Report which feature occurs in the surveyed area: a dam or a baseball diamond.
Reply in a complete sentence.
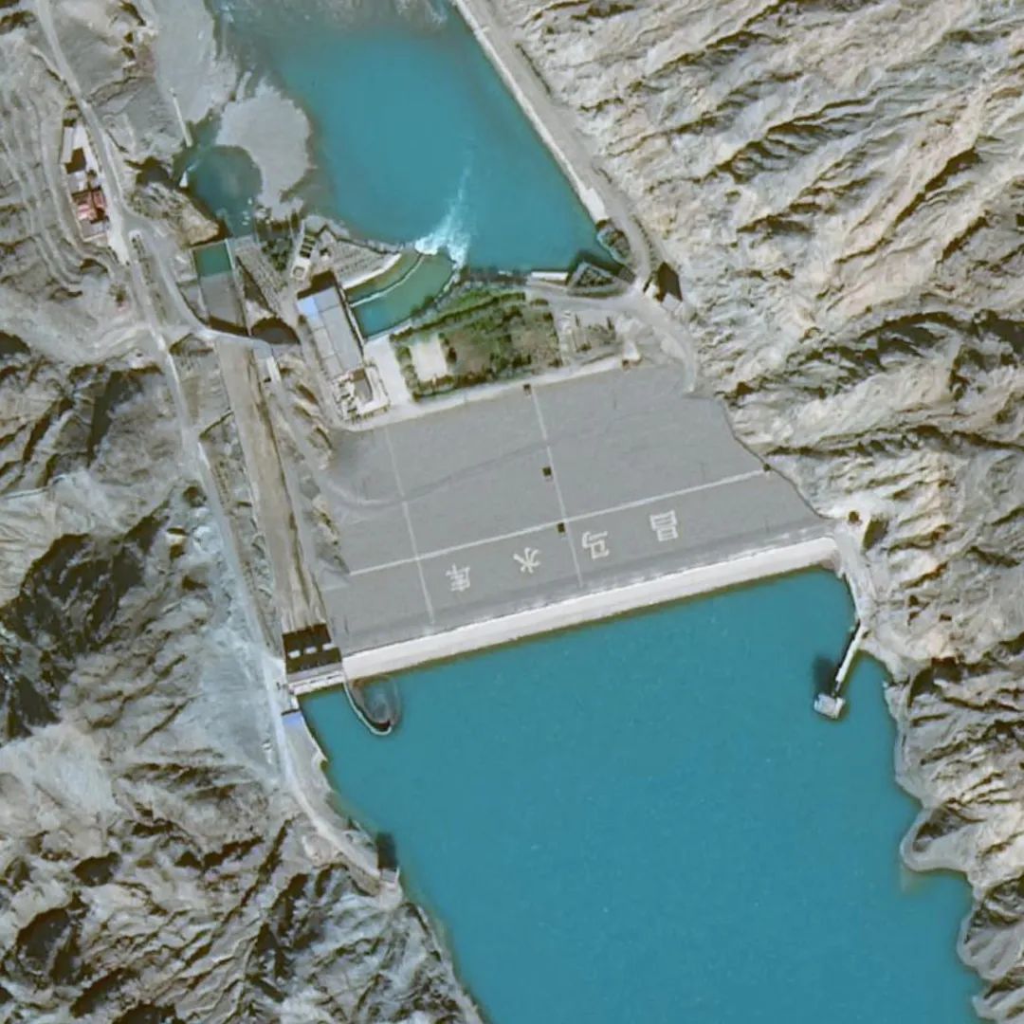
There is a dam in the scene.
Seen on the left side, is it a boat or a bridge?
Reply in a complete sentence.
The one visible on the left side is a bridge.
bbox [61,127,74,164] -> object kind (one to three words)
house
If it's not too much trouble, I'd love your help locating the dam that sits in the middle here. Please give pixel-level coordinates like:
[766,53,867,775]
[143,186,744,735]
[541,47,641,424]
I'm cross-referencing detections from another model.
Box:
[314,357,845,682]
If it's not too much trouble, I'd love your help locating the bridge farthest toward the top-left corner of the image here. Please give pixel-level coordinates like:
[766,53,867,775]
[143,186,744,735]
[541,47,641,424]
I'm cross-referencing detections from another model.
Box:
[187,320,274,358]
